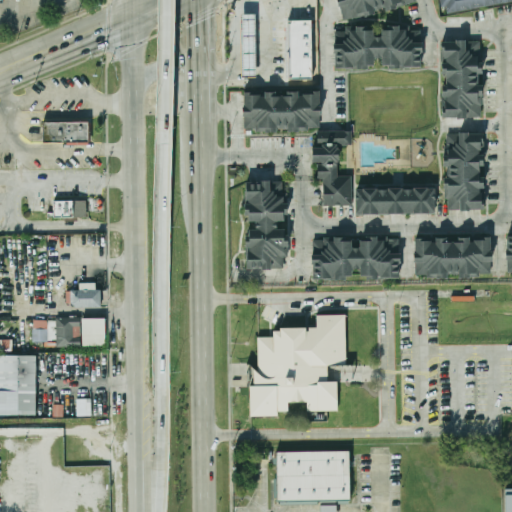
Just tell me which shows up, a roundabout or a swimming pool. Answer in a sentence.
Of the two, only a swimming pool appears.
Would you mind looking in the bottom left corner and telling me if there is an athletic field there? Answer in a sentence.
No, there's no athletic field to be seen in the bottom left corner.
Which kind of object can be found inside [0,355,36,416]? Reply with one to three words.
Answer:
building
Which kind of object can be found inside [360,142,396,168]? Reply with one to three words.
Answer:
swimming pool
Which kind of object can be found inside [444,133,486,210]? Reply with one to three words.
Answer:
building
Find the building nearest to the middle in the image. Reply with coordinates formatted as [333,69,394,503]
[246,186,286,264]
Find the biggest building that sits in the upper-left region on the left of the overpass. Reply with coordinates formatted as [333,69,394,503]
[44,121,90,145]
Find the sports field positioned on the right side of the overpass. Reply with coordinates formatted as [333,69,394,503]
[350,72,438,134]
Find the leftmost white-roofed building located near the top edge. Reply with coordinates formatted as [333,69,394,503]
[242,14,256,78]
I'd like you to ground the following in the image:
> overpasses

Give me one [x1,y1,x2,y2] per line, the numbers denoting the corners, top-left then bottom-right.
[151,0,176,512]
